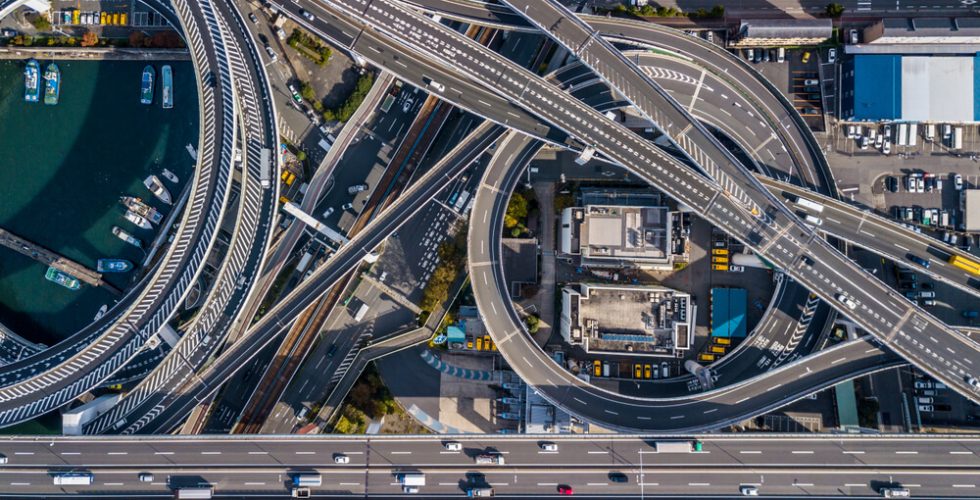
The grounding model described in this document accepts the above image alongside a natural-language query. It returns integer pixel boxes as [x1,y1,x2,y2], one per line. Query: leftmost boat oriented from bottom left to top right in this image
[92,304,106,320]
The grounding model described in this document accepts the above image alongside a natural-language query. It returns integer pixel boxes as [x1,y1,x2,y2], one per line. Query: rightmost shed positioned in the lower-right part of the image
[826,378,862,434]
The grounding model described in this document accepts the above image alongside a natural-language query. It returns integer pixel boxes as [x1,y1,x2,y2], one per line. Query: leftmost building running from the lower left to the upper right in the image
[63,378,145,434]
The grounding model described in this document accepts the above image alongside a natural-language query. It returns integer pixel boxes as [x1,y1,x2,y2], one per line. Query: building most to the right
[947,190,980,233]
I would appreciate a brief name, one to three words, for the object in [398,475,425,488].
vehicle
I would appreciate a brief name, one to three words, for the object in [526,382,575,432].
building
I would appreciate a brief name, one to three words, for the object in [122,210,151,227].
boat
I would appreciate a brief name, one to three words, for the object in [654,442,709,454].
vehicle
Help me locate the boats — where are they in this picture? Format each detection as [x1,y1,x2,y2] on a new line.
[122,210,151,227]
[44,62,58,103]
[141,173,170,203]
[43,268,79,287]
[186,144,195,159]
[92,304,106,320]
[140,63,152,103]
[110,227,142,248]
[23,60,37,102]
[96,260,132,273]
[161,64,171,107]
[162,168,178,182]
[120,194,159,219]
